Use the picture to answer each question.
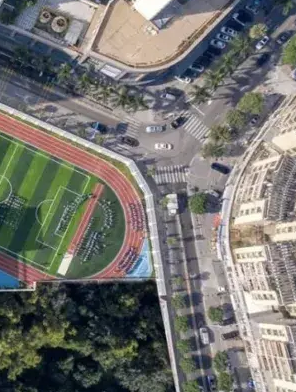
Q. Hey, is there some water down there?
No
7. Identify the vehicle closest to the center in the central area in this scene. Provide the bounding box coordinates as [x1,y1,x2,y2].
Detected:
[166,193,179,218]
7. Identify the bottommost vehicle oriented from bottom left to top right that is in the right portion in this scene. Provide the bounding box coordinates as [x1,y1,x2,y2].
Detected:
[170,115,188,131]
